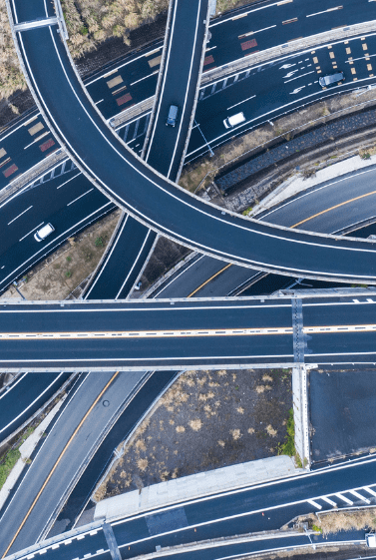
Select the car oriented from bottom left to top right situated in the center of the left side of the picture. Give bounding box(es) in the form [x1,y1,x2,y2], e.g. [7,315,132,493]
[31,220,56,241]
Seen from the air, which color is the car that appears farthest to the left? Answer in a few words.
white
